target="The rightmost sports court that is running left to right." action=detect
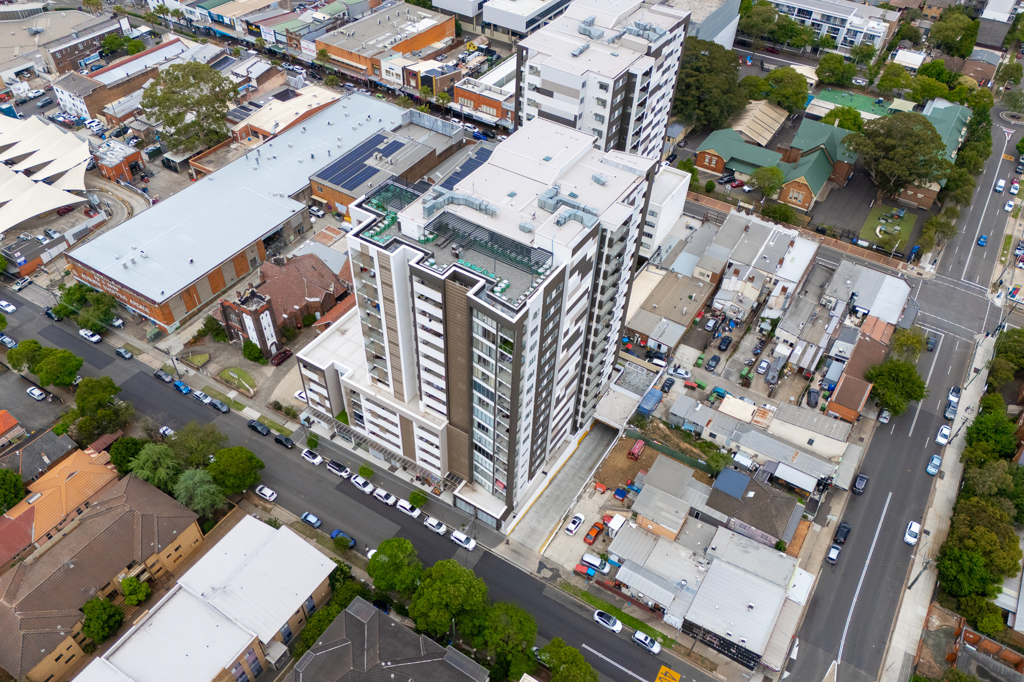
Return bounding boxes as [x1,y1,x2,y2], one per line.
[818,86,891,108]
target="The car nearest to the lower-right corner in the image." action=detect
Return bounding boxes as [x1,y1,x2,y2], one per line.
[903,520,922,547]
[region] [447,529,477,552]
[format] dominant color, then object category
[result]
white car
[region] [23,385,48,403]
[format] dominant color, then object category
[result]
white car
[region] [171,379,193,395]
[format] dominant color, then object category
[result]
blue car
